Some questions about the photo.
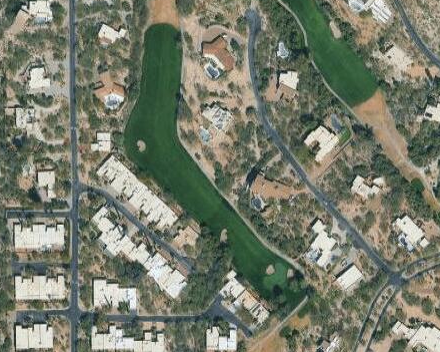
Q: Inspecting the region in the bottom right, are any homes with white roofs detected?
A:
Yes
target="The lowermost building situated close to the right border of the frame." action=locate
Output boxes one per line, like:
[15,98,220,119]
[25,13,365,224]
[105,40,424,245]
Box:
[391,320,440,352]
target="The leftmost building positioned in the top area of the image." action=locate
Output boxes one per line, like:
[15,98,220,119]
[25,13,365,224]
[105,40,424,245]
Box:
[5,108,34,127]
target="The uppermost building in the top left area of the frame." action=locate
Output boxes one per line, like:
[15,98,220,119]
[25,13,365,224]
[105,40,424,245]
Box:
[21,0,54,22]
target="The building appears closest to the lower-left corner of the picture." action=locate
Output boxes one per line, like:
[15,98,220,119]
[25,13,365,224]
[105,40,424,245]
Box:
[16,323,54,349]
